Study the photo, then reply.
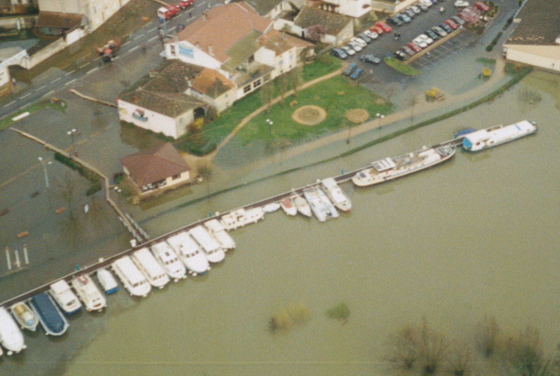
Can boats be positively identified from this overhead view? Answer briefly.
Yes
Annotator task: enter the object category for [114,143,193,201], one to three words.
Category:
building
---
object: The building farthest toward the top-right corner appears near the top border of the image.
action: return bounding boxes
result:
[501,0,560,62]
